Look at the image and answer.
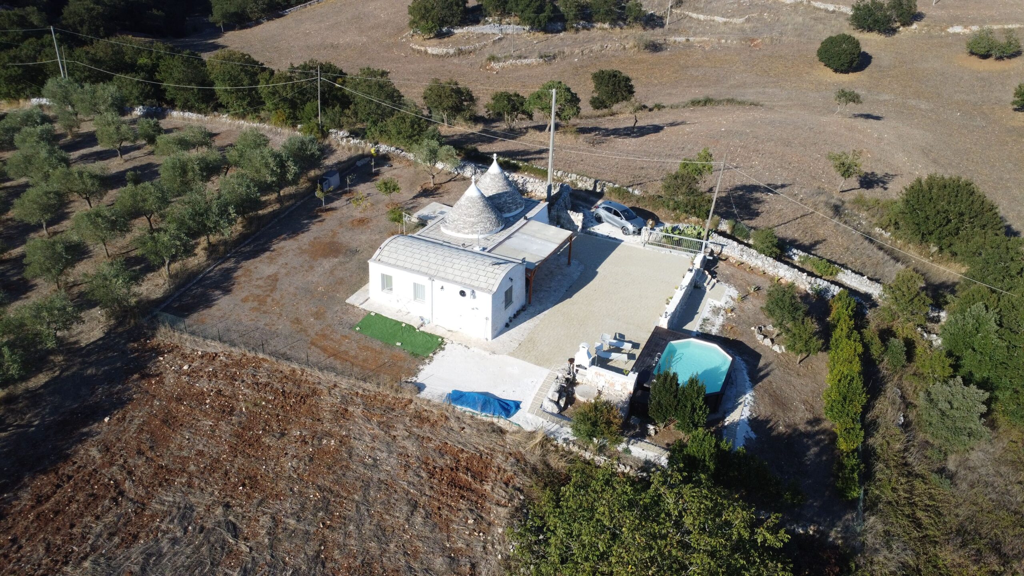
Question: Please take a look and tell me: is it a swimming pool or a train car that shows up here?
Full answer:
I can see a swimming pool in this picture.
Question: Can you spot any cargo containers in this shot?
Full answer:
No, there appears to be no cargo container in this shot.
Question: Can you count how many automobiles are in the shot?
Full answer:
The picture shows 1 automobile.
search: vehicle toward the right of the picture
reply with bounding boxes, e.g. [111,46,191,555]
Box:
[593,200,646,235]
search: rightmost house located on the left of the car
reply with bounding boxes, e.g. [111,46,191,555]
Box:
[367,153,546,339]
